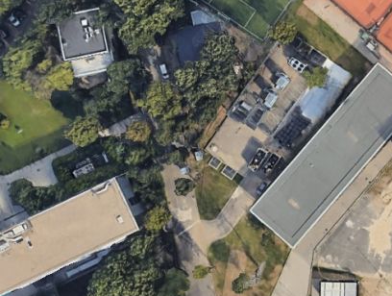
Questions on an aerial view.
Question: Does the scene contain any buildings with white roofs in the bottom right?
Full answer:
Yes, looking in the bottom right, one can make out a building with a white roof.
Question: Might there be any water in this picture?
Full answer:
No, no water is visible.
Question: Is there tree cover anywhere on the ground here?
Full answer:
Yes, tree cover shows up in the scene.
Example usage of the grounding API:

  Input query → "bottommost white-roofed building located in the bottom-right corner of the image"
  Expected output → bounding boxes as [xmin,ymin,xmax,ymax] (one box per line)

[320,279,359,296]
